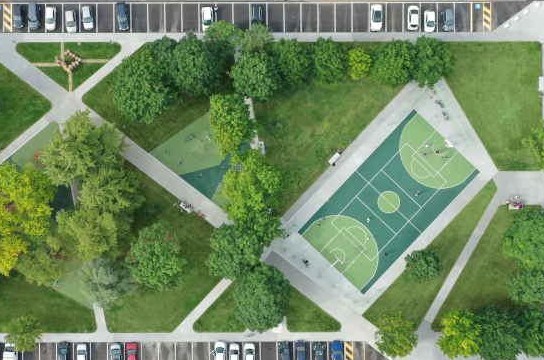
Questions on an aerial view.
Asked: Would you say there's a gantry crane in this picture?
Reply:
No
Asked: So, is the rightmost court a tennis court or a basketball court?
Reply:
basketball court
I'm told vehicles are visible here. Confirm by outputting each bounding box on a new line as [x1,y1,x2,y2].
[406,5,421,32]
[330,340,344,360]
[116,2,129,32]
[125,342,137,360]
[56,341,70,360]
[44,6,58,32]
[64,10,77,35]
[312,341,324,360]
[12,5,25,30]
[295,340,306,360]
[369,4,384,33]
[27,2,41,31]
[228,342,240,360]
[277,340,291,360]
[243,342,256,360]
[209,340,226,360]
[201,5,213,32]
[76,343,88,360]
[109,341,122,360]
[251,4,263,23]
[81,5,95,32]
[423,9,436,34]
